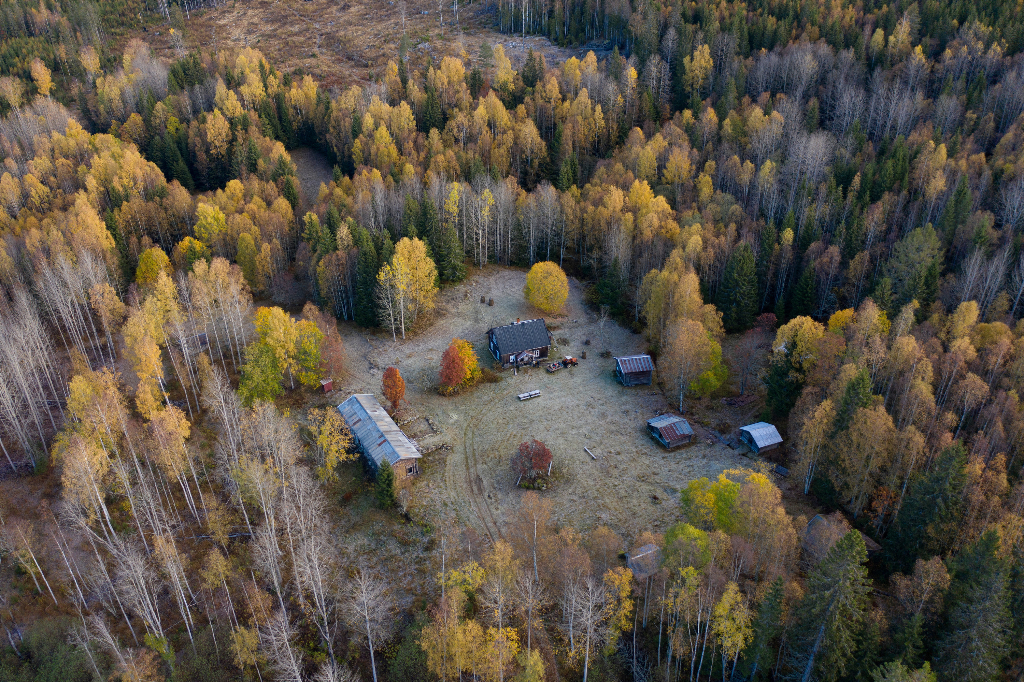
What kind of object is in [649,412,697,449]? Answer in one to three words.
shed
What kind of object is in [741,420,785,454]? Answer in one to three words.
shed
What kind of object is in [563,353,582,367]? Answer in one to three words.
work vehicle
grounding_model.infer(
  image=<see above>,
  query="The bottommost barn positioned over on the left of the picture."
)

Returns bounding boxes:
[338,393,419,480]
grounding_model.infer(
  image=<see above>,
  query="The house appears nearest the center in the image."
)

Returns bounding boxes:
[486,316,551,369]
